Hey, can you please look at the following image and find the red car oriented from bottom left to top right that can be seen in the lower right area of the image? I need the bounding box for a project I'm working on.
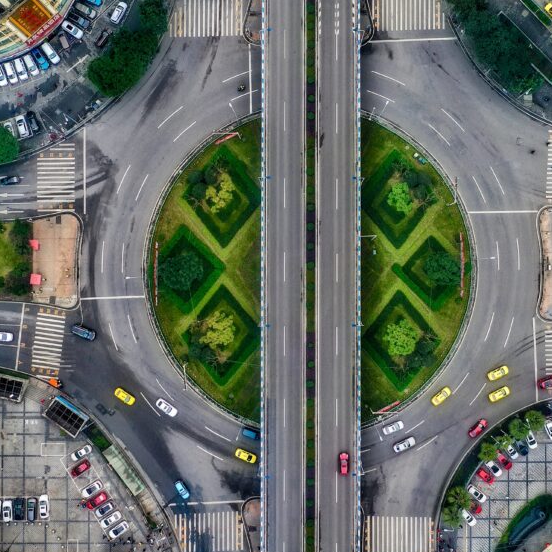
[466,418,489,438]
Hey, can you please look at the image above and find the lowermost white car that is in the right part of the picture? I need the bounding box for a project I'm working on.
[458,507,478,526]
